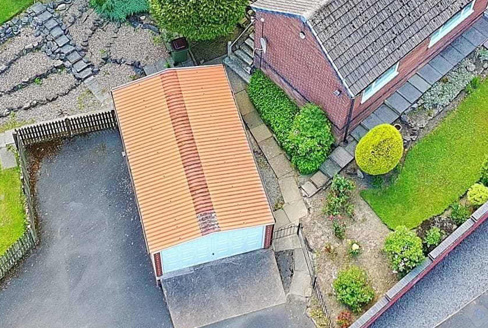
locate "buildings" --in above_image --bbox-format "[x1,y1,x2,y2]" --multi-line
[112,64,274,278]
[248,0,488,144]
